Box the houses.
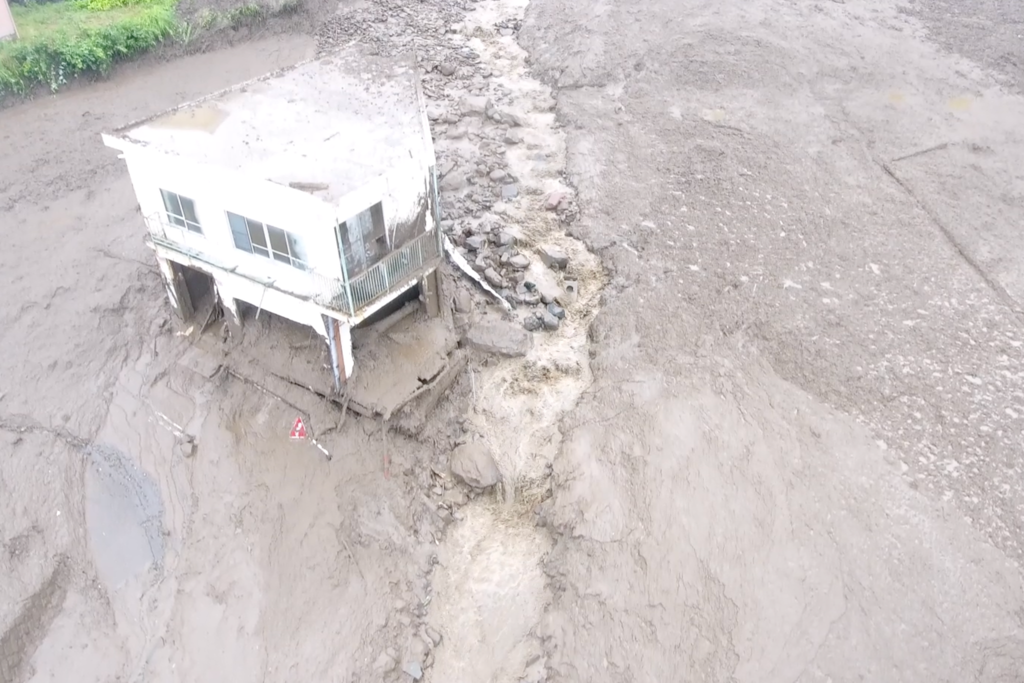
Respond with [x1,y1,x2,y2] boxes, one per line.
[0,0,20,40]
[99,41,476,441]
